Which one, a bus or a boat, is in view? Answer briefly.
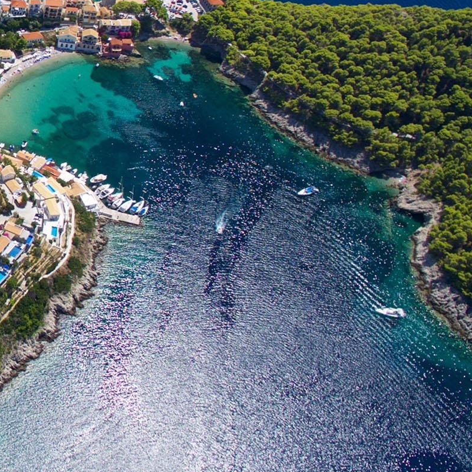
boat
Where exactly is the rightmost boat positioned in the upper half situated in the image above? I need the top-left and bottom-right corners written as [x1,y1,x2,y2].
[297,170,321,195]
